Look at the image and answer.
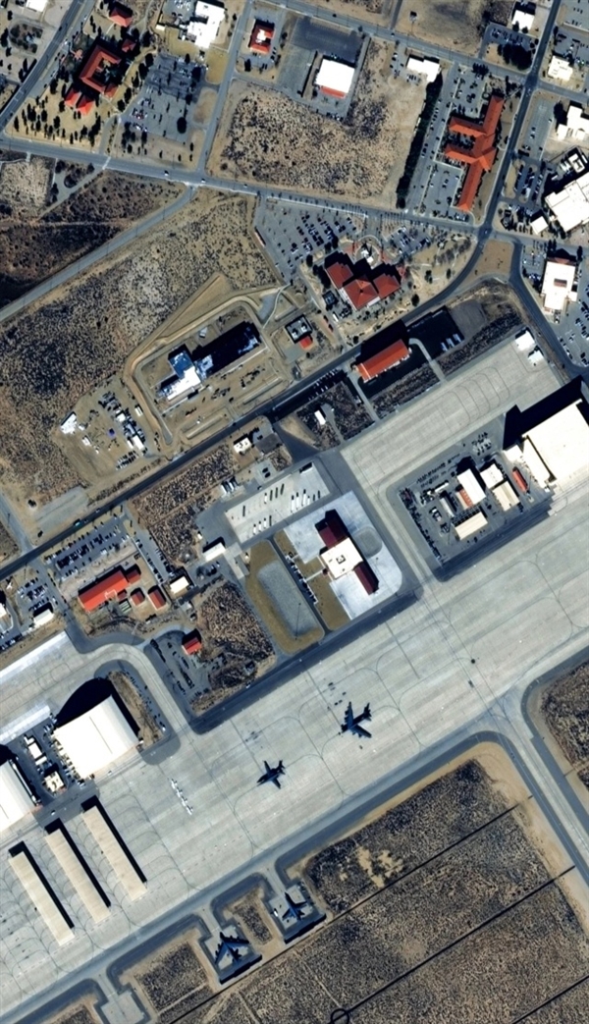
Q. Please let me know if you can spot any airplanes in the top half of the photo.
No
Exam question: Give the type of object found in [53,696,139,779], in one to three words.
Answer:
hangar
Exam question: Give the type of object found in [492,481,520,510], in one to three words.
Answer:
building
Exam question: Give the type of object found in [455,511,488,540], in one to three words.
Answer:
building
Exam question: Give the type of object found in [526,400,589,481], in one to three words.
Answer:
hangar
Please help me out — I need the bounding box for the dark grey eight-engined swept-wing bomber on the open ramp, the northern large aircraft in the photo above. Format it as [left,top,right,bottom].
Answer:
[343,702,376,738]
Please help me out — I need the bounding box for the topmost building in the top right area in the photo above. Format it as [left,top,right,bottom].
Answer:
[512,9,536,30]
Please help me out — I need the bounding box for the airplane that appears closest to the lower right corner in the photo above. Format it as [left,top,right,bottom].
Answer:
[284,893,307,922]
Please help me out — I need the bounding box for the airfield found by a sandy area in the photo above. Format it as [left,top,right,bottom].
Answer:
[0,328,589,1024]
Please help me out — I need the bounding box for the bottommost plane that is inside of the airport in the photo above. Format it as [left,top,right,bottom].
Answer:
[219,933,253,967]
